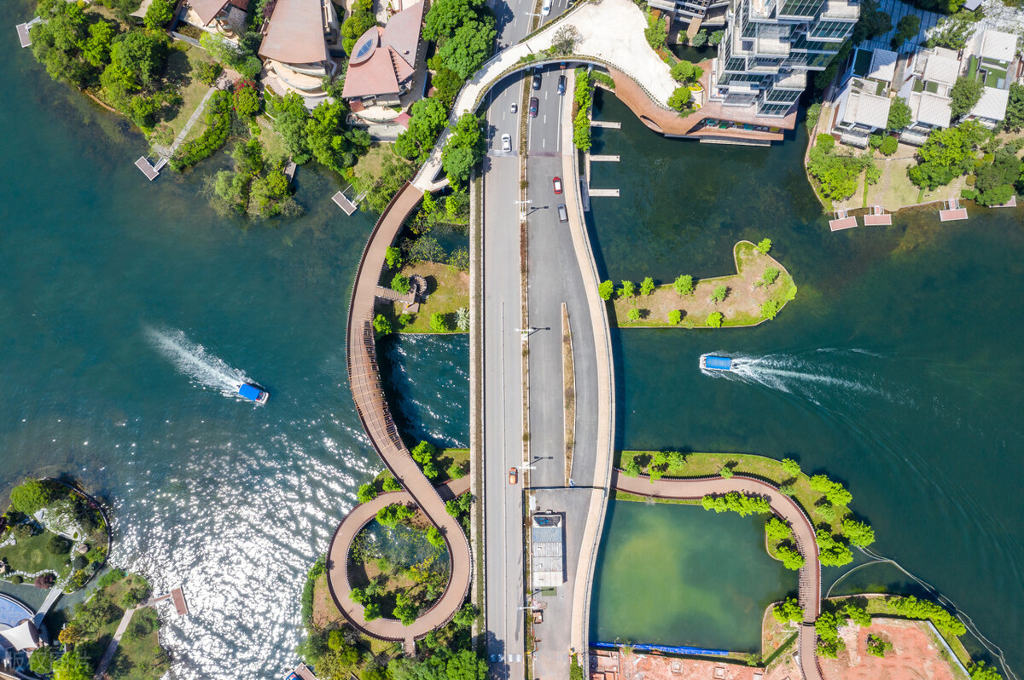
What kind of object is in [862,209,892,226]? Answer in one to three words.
pier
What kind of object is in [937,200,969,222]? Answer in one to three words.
pier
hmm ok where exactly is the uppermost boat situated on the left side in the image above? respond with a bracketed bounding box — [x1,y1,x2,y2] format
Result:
[237,380,270,403]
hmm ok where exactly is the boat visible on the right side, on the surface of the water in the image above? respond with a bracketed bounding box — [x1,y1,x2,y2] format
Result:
[699,356,735,370]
